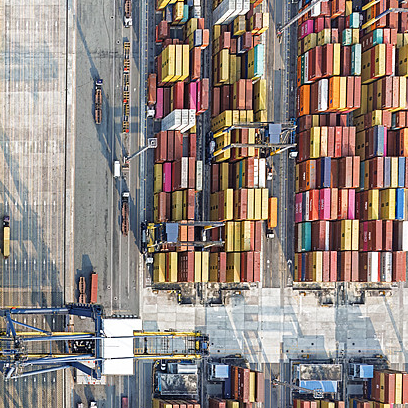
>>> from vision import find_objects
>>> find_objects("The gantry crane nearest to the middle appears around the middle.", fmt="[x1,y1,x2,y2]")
[140,219,227,254]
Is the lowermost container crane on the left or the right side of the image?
left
